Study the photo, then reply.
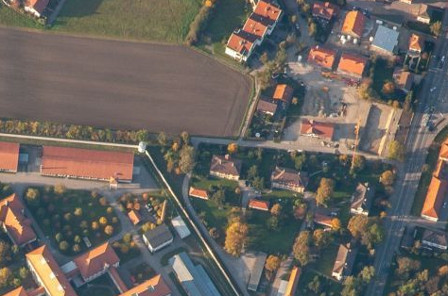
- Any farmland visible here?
Yes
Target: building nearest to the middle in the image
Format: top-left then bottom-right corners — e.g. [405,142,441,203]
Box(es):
[211,154,243,177]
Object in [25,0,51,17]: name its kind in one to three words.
house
